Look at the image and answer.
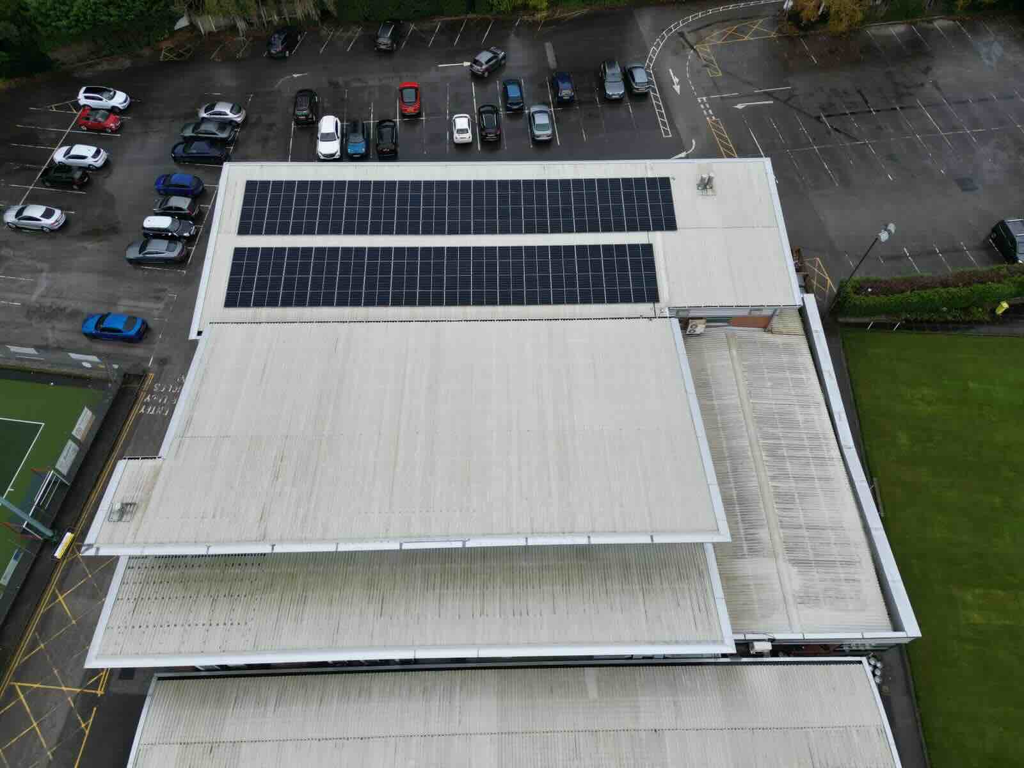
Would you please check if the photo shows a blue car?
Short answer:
Yes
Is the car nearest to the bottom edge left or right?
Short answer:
left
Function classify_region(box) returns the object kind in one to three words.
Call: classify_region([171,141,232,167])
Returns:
car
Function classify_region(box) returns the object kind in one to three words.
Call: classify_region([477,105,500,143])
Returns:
car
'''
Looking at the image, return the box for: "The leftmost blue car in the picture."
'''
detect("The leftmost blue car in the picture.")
[80,312,151,344]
